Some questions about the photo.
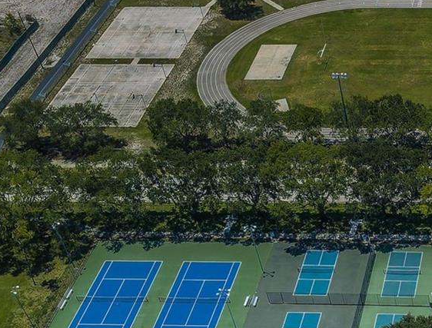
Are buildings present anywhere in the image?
No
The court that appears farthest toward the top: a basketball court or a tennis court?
basketball court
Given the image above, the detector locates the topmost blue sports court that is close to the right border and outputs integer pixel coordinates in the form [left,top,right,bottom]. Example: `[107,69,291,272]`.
[382,251,422,297]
